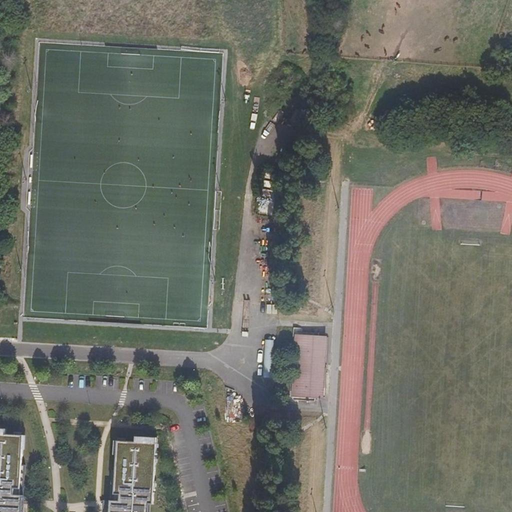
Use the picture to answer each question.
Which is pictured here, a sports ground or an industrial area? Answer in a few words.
sports ground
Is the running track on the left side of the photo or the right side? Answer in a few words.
right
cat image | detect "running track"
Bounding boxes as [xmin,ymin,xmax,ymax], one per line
[332,157,512,512]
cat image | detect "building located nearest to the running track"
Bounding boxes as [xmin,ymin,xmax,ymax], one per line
[292,328,328,400]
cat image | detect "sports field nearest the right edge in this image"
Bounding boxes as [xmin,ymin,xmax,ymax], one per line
[357,188,512,512]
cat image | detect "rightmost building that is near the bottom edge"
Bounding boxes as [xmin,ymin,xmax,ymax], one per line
[104,438,158,512]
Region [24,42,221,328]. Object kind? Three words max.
soccer field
